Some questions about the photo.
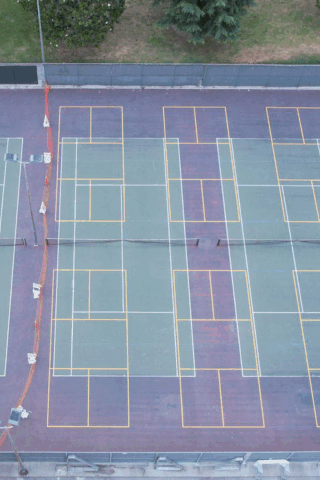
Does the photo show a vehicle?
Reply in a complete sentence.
No, no vehicle is visible in the scene.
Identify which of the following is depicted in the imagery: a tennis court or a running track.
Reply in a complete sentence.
Visible in the photo is a tennis court.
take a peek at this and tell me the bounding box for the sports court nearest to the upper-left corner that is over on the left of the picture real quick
[55,107,124,222]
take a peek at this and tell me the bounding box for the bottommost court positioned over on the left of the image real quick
[46,270,128,426]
